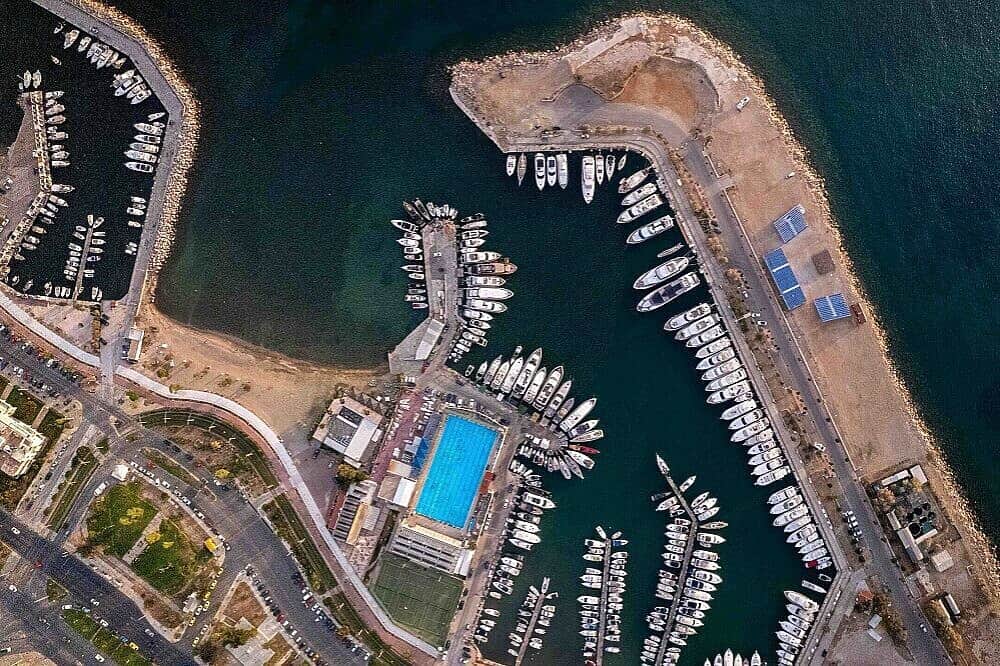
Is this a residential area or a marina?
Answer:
marina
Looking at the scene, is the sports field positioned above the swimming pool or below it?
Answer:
below it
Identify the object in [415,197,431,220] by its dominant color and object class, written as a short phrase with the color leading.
gray boat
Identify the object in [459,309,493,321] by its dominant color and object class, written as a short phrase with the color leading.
white boat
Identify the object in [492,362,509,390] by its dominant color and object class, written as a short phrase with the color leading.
white boat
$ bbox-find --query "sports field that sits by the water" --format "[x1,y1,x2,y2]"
[367,551,466,654]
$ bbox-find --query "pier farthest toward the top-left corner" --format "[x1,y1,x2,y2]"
[0,92,40,245]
